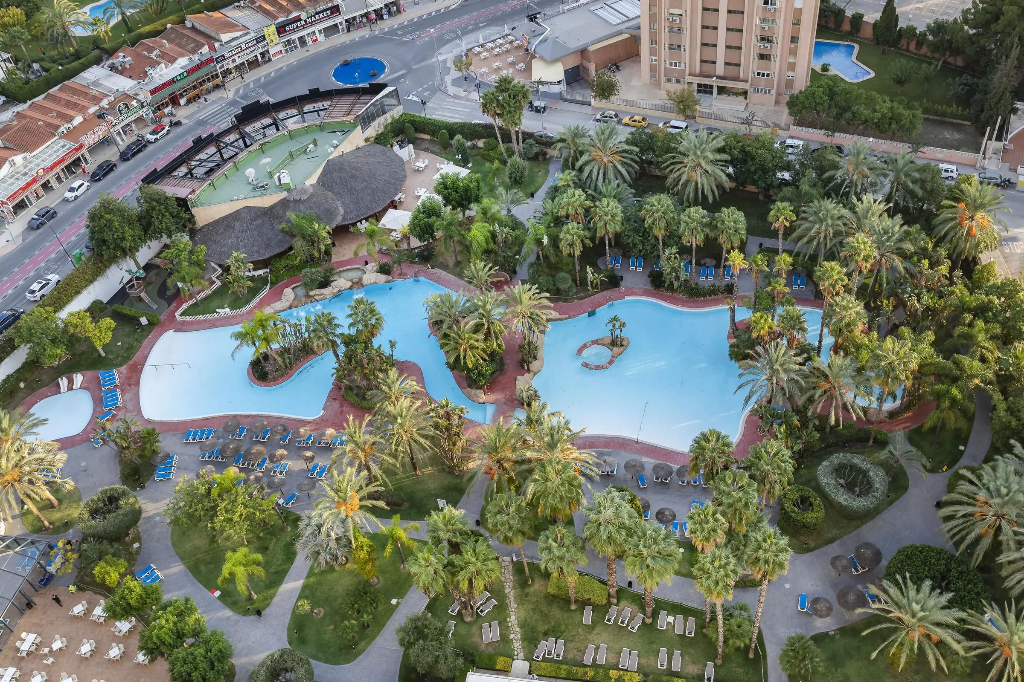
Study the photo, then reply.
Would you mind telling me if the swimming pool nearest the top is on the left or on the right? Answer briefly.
left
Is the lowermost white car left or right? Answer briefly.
left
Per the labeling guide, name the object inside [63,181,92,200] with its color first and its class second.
white car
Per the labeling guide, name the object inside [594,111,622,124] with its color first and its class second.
gray vehicle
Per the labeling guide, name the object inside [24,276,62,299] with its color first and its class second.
white car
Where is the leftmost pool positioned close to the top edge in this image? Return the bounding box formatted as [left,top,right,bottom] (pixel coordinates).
[68,0,137,35]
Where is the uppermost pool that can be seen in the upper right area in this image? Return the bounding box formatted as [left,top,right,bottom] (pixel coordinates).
[820,41,872,80]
